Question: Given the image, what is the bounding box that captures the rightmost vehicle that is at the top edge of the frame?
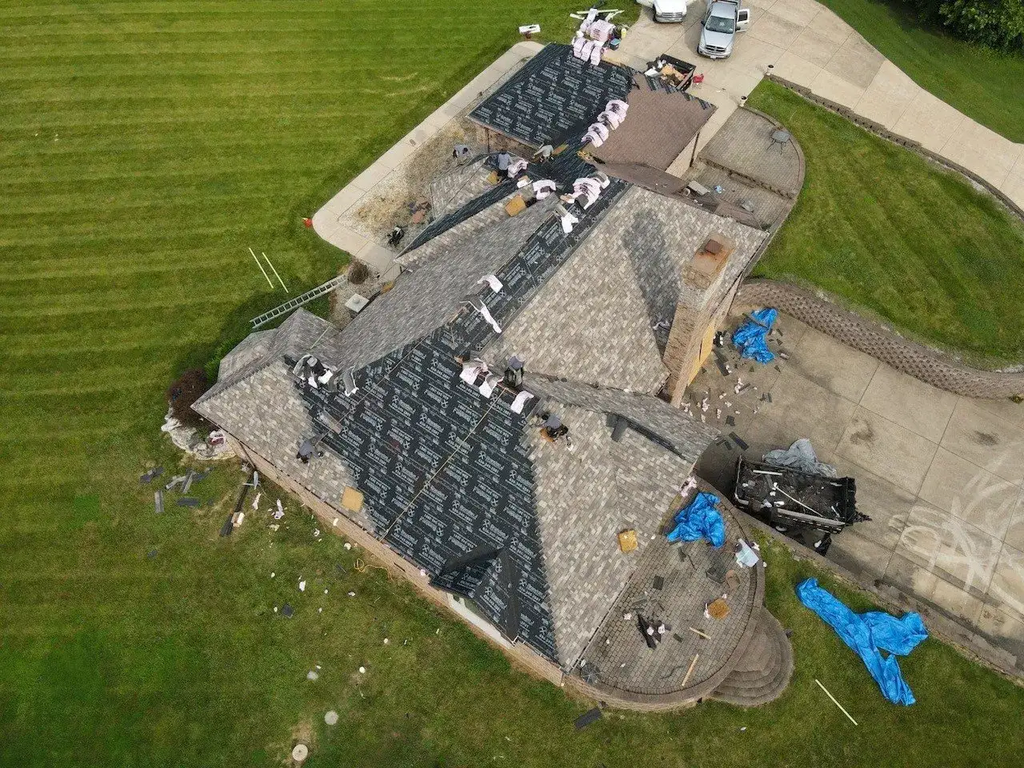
[701,0,758,58]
